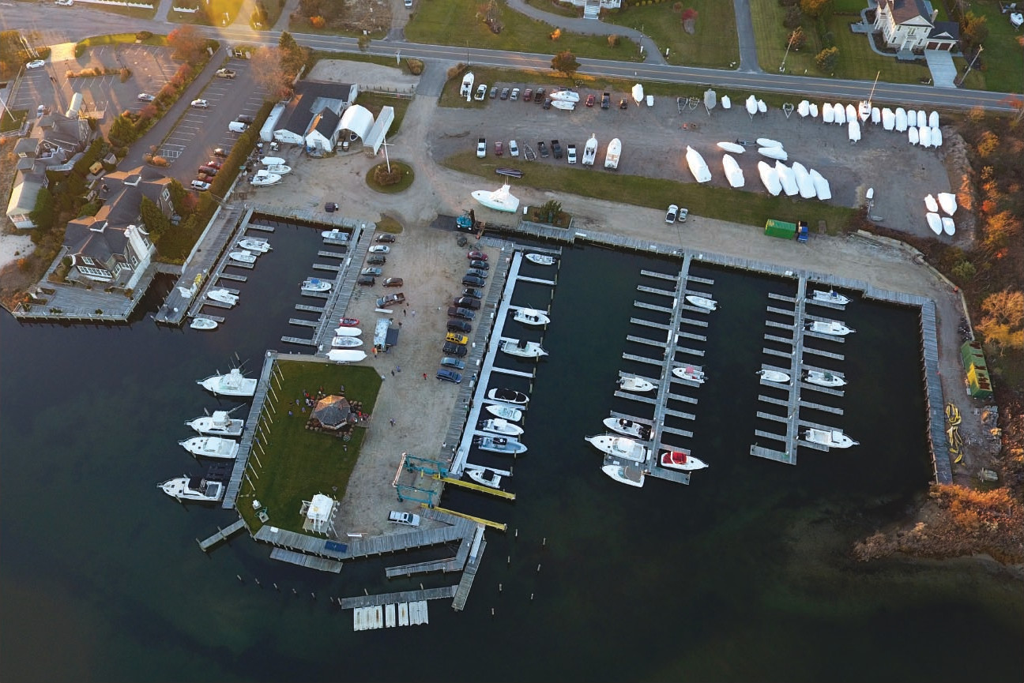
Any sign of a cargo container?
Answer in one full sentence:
Yes, there's a cargo container here.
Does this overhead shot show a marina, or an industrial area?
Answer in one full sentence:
This image shows a marina.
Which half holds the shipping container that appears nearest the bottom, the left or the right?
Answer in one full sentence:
It is on the right.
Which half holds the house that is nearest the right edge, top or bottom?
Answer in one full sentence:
The house that is nearest the right edge sits in the top half of the picture.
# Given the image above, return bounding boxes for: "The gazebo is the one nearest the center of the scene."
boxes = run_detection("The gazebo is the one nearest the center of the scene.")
[313,394,346,429]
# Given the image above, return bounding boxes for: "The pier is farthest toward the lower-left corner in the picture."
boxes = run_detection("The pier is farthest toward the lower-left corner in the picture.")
[199,519,245,551]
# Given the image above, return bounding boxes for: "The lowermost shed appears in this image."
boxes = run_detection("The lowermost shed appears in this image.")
[298,486,338,533]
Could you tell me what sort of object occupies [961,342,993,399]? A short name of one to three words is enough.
shipping container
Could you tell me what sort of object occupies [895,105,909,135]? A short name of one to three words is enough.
boat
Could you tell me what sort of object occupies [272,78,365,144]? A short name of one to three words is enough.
building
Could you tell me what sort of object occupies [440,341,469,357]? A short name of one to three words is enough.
vehicle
